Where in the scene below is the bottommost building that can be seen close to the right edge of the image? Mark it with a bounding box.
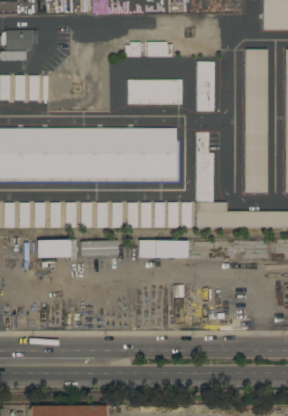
[228,210,288,226]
